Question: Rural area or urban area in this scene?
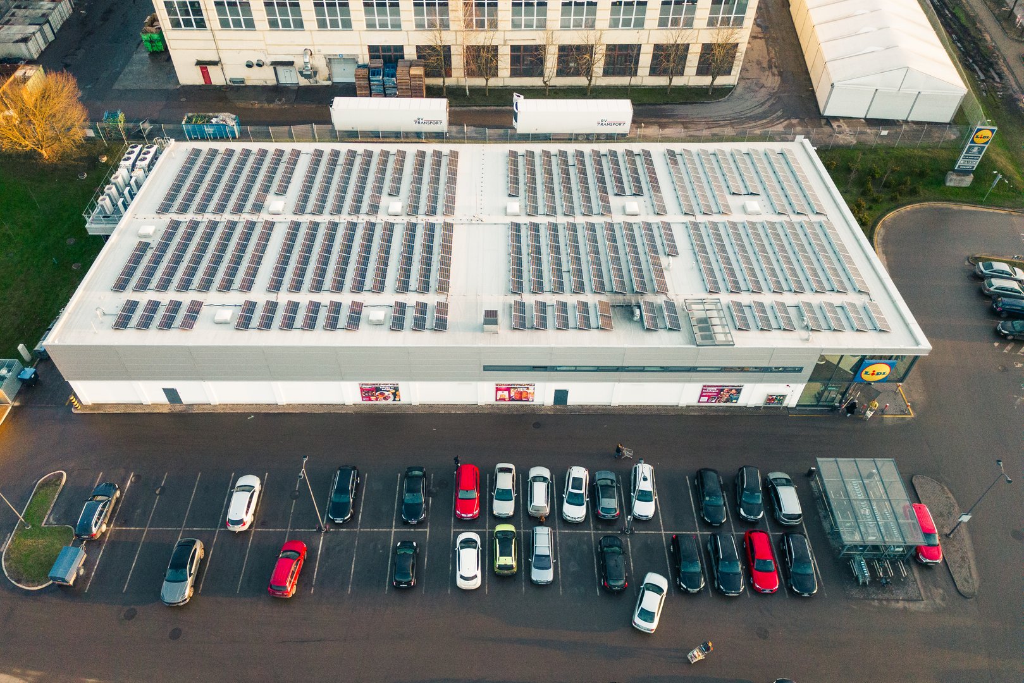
urban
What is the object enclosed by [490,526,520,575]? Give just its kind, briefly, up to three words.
car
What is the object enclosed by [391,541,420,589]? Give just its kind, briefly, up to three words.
car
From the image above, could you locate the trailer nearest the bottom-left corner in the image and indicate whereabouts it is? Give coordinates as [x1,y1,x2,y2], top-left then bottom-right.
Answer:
[48,540,95,589]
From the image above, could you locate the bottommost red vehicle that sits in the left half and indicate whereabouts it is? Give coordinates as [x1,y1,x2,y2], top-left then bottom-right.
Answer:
[268,541,309,598]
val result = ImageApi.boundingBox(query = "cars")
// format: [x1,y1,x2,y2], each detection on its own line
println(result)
[398,466,428,525]
[899,505,943,567]
[452,465,482,521]
[452,533,484,590]
[159,540,204,607]
[632,572,670,635]
[742,533,781,595]
[708,534,747,597]
[592,472,622,519]
[993,318,1024,341]
[527,529,558,586]
[973,261,1024,283]
[72,484,119,539]
[989,294,1024,320]
[490,526,520,575]
[391,541,420,589]
[672,537,708,594]
[978,276,1024,299]
[779,534,821,598]
[224,476,262,532]
[766,472,803,526]
[327,467,361,524]
[525,468,554,517]
[734,466,768,523]
[268,541,309,598]
[489,463,519,518]
[561,467,592,525]
[630,465,659,522]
